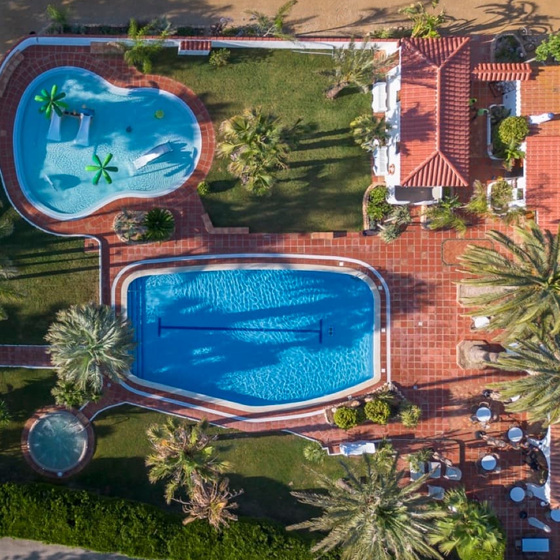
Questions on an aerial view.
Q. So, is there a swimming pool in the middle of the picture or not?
Yes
